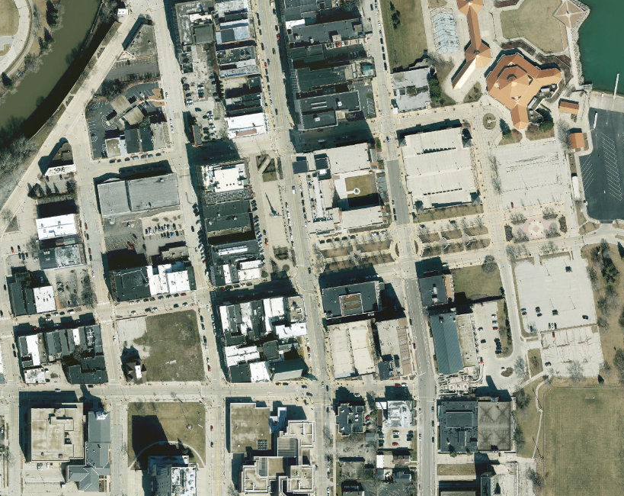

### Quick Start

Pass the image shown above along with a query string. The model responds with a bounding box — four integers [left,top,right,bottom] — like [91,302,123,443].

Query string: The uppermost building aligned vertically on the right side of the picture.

[454,0,491,89]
